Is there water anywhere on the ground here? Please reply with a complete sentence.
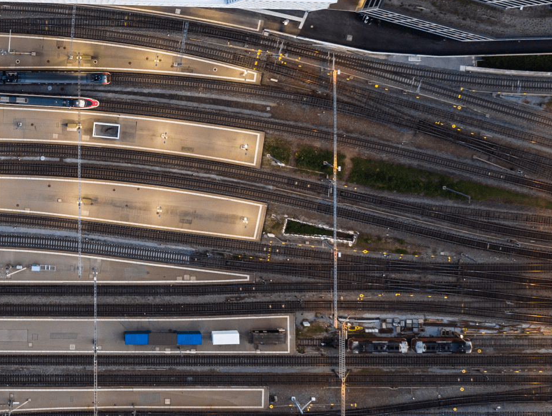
No, no water is visible.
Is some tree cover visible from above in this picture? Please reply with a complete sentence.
No, no tree cover is visible.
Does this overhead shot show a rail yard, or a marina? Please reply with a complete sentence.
This image shows a rail yard.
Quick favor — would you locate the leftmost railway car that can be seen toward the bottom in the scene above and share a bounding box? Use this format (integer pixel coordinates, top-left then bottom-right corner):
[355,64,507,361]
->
[347,338,406,353]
